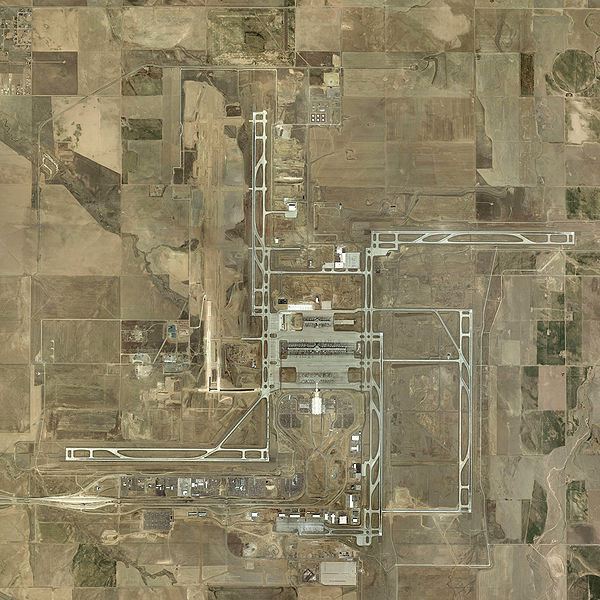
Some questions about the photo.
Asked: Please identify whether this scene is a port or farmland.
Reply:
farmland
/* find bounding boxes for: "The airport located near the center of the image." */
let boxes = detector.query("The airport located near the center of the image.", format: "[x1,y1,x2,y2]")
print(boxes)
[65,111,575,546]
